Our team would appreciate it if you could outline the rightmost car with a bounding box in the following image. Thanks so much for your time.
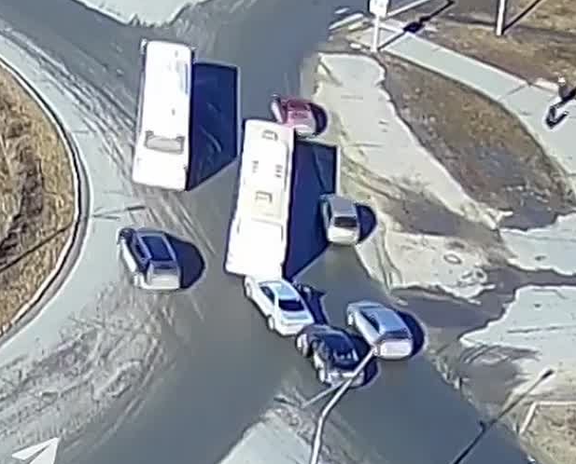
[350,303,414,357]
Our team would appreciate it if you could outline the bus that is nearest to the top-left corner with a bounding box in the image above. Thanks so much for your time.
[134,40,197,188]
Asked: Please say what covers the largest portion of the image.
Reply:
paved ground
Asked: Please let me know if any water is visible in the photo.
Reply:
No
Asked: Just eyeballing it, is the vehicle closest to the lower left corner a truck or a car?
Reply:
car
